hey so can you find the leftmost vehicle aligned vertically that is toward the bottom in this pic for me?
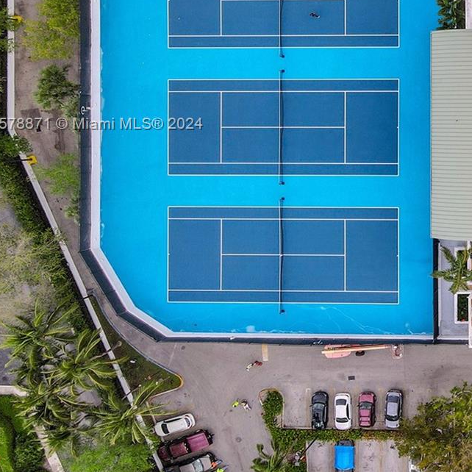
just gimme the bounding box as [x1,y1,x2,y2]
[309,386,331,432]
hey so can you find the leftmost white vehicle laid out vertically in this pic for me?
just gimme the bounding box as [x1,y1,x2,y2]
[332,387,354,432]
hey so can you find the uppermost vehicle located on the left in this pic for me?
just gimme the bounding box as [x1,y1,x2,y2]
[155,411,198,438]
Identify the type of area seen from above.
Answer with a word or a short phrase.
sports ground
